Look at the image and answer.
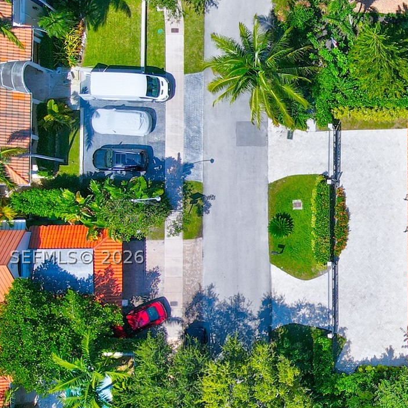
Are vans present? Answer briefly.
Yes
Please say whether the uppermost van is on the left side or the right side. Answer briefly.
left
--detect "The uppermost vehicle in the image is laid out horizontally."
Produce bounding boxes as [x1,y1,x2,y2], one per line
[80,64,169,98]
